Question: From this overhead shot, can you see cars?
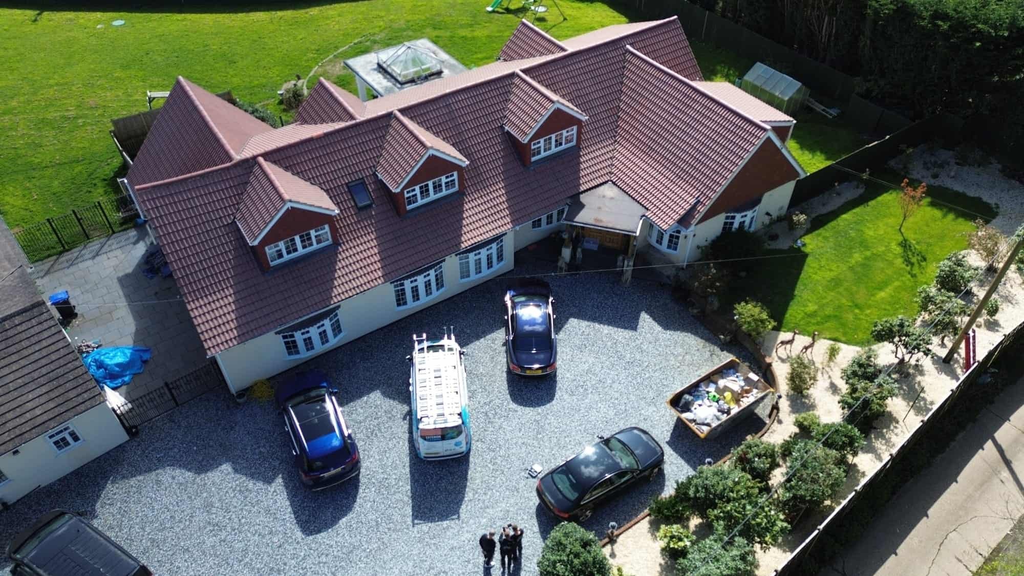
Yes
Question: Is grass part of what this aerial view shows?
Yes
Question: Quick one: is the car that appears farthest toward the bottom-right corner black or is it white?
black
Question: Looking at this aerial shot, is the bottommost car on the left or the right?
left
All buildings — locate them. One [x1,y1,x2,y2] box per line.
[0,219,127,508]
[119,18,806,394]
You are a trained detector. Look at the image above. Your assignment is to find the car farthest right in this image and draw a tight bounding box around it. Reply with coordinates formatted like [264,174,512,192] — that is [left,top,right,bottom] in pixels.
[532,426,665,525]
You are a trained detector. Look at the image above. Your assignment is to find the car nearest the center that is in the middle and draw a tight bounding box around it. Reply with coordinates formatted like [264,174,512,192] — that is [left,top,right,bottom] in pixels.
[503,282,556,377]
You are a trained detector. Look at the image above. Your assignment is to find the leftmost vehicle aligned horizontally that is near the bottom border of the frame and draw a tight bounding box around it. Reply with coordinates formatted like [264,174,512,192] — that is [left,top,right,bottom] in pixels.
[8,507,154,576]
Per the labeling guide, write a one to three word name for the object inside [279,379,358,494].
car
